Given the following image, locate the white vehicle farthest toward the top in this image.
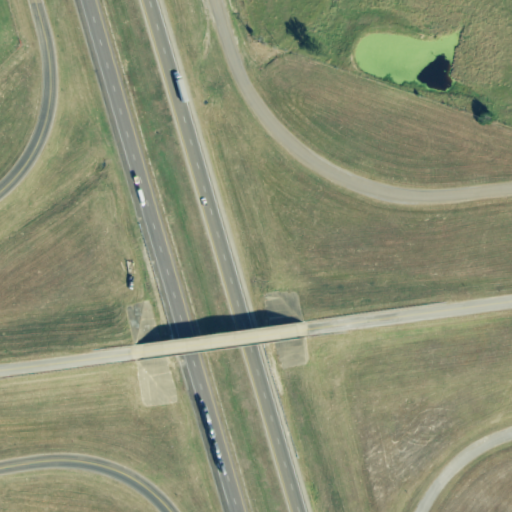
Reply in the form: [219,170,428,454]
[172,70,188,103]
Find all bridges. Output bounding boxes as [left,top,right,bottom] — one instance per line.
[132,322,310,361]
